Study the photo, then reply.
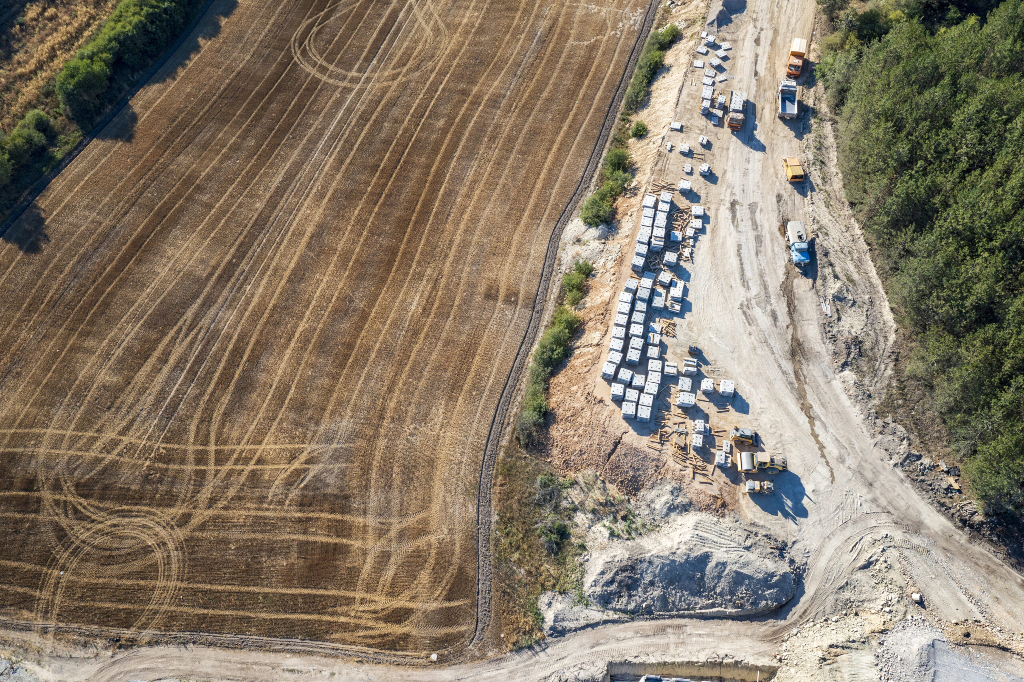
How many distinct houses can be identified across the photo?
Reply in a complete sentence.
The picture shows no houses.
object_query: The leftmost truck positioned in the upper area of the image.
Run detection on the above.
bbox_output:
[726,89,751,131]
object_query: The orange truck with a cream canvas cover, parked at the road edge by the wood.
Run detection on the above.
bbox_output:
[785,38,806,77]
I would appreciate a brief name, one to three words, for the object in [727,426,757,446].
work vehicle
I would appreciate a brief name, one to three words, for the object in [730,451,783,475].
work vehicle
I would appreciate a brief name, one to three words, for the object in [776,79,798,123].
truck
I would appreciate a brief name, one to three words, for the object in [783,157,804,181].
truck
